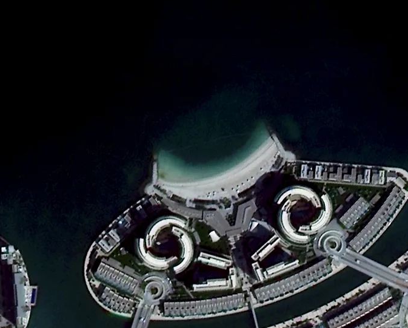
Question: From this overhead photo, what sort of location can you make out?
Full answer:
This looks like a residential area.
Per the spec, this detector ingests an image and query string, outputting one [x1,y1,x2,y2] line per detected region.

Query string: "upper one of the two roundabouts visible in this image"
[316,228,349,261]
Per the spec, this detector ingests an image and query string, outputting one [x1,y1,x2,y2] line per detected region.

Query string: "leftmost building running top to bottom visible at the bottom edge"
[0,246,30,328]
